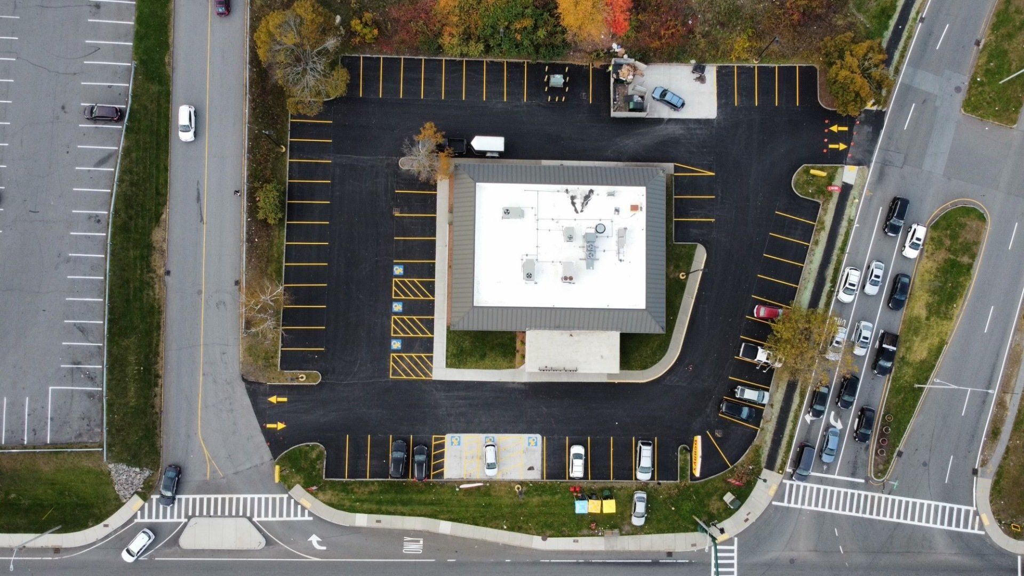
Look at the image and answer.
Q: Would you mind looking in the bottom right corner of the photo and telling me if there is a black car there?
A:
Yes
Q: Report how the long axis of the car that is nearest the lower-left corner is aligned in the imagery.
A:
diagonally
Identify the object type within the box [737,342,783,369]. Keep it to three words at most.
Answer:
truck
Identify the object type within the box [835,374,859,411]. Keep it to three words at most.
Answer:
car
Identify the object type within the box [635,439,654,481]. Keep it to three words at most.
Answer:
vehicle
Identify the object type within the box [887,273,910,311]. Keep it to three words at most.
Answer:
car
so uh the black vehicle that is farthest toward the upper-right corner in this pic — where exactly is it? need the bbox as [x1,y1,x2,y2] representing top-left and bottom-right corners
[882,196,908,237]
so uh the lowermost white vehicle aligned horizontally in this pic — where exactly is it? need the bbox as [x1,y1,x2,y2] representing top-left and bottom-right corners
[732,385,770,405]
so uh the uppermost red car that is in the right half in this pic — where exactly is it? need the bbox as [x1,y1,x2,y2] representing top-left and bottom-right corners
[753,304,791,322]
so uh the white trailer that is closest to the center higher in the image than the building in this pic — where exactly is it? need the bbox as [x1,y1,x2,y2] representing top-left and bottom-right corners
[467,136,505,157]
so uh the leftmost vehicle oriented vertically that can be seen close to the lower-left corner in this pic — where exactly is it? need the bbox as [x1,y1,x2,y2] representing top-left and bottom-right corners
[159,464,182,504]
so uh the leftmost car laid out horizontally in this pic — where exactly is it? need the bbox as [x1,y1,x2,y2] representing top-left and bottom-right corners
[86,104,124,122]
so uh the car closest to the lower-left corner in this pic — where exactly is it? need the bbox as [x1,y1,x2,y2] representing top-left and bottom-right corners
[122,527,157,562]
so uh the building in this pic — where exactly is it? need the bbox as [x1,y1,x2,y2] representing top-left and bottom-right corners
[450,163,666,374]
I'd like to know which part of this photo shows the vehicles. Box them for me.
[630,488,648,527]
[807,384,830,420]
[737,342,783,369]
[887,273,910,311]
[872,329,900,377]
[482,442,499,477]
[818,426,840,463]
[411,443,429,482]
[835,374,859,411]
[178,105,196,141]
[159,464,182,504]
[882,196,908,237]
[718,399,756,421]
[390,439,408,479]
[837,267,859,304]
[569,443,586,479]
[790,441,814,482]
[650,87,686,114]
[850,319,872,356]
[732,385,770,405]
[753,304,791,322]
[122,527,157,562]
[635,439,654,481]
[826,325,848,361]
[861,260,883,296]
[214,0,231,17]
[852,405,875,444]
[86,104,124,122]
[901,223,925,259]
